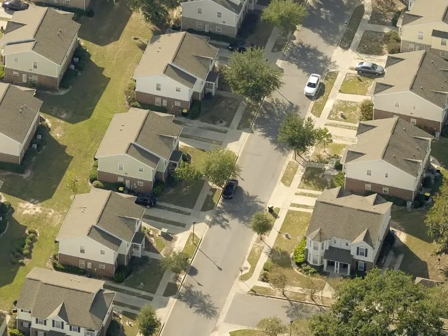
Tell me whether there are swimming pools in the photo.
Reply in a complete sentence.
No, there isn't any swimming pool down there.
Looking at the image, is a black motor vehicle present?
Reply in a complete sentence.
Yes, a black motor vehicle appears in the view.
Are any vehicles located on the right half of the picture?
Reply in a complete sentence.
Yes, you'll find a vehicle on the right half of the picture.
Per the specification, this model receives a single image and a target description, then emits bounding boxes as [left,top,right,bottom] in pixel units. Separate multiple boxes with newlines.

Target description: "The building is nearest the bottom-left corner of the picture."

[14,267,117,336]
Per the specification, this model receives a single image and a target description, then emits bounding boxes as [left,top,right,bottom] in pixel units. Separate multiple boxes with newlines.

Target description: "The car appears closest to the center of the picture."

[221,177,239,200]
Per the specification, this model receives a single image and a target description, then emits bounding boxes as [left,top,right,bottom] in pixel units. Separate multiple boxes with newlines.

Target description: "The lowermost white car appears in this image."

[305,75,321,97]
